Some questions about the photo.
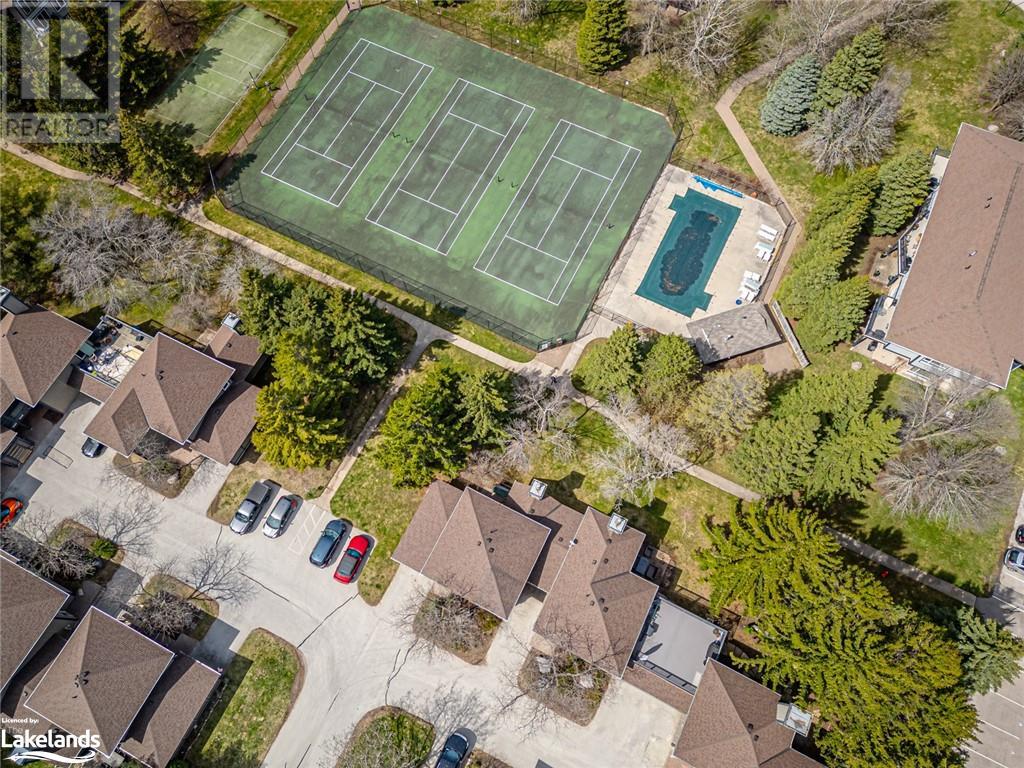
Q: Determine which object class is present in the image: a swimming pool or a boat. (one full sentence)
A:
This aerial view contains a swimming pool.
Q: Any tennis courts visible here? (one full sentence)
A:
Yes, there's a tennis court here.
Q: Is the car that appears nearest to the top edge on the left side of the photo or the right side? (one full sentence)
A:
The car that appears nearest to the top edge appears in the left half of the scene.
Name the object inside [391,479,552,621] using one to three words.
house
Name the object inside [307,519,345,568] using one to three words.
car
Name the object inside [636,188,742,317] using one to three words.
swimming pool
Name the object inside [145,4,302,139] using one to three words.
sports court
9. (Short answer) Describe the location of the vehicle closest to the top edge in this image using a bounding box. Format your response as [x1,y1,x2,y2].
[79,435,103,458]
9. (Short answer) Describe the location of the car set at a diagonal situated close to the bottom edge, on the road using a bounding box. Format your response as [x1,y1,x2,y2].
[432,725,470,768]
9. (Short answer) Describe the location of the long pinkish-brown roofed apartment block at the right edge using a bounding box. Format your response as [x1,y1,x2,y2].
[874,122,1024,394]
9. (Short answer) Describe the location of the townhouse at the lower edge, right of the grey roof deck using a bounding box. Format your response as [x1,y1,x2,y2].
[664,657,827,768]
